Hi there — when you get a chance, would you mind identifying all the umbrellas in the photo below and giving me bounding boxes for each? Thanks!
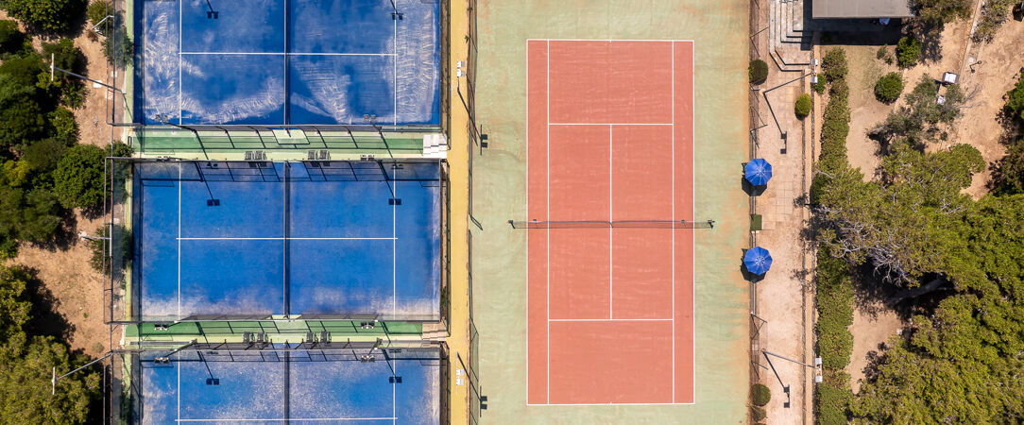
[744,157,774,186]
[744,247,773,274]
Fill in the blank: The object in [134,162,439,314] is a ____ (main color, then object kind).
blue sports court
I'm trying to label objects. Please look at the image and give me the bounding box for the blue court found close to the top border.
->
[134,0,439,130]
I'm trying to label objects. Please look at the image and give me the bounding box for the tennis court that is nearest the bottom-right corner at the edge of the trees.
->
[471,0,749,425]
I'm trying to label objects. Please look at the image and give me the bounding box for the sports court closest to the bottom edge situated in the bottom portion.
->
[134,342,440,425]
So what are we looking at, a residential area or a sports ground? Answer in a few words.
sports ground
